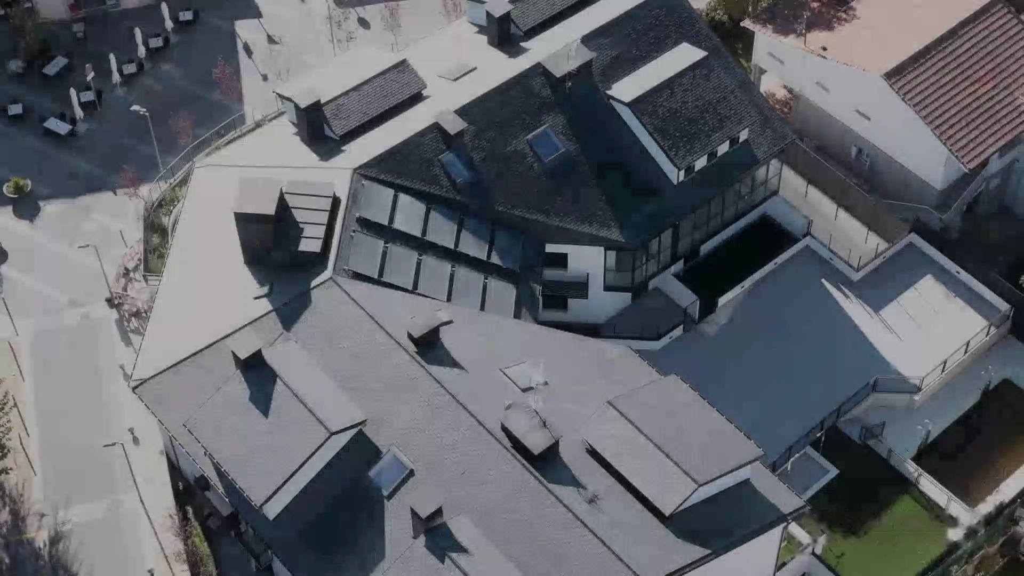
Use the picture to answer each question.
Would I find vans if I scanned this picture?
No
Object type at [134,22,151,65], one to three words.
umbrella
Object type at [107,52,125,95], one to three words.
umbrella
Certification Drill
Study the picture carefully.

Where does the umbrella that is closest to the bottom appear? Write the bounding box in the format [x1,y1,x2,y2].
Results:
[69,81,88,124]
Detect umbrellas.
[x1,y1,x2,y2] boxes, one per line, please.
[69,81,88,124]
[161,0,178,37]
[134,22,151,65]
[107,52,125,95]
